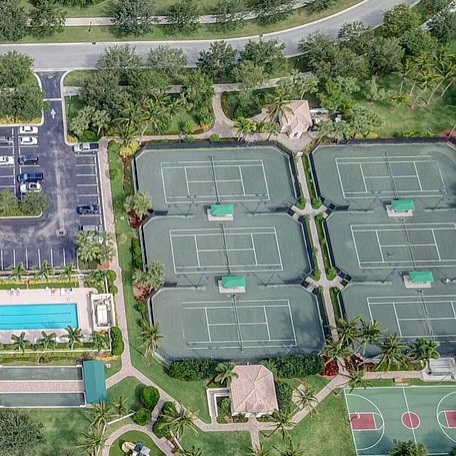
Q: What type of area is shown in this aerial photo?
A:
sports ground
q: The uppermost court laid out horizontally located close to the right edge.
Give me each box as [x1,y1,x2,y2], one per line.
[312,143,456,209]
